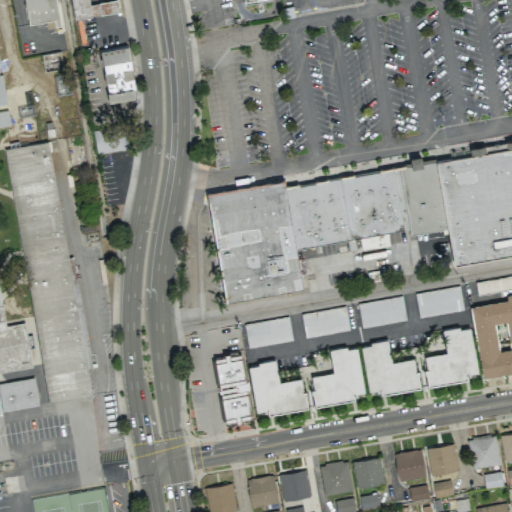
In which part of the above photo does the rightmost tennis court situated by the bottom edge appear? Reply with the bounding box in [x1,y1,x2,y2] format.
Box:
[69,489,108,512]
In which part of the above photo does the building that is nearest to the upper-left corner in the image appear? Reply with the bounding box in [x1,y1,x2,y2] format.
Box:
[28,0,64,34]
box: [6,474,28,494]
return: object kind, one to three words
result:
shed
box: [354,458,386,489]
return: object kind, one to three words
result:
house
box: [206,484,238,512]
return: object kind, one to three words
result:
house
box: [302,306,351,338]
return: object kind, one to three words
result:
building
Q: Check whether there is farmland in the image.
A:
No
